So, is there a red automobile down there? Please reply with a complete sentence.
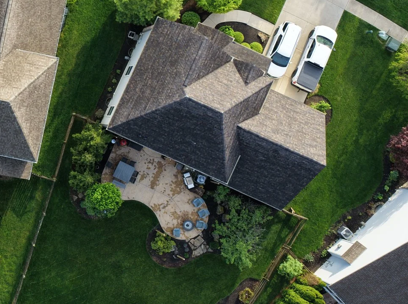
No, there appears to be no red automobile in this shot.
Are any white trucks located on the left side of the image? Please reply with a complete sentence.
No, no white truck appears on the left side of the image.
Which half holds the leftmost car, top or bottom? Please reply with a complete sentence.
Seen from above, the leftmost car lies in the top half of the view.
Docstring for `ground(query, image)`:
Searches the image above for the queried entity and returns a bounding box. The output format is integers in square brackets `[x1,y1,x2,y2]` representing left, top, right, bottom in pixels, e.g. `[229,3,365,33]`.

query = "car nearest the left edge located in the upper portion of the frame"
[267,18,306,80]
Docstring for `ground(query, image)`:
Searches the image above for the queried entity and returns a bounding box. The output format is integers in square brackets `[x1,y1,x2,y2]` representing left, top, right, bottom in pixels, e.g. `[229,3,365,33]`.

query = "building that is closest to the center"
[103,17,327,212]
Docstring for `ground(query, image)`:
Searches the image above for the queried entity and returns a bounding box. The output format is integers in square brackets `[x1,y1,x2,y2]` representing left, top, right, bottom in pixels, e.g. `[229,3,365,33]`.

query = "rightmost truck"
[293,24,336,95]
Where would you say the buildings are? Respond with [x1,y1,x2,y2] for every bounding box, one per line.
[0,0,67,181]
[309,187,408,304]
[103,17,327,212]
